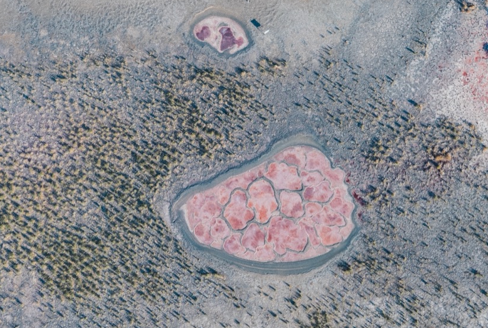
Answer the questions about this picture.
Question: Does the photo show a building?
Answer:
No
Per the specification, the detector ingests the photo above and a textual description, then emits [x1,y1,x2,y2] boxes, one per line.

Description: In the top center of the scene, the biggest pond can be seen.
[189,11,253,55]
